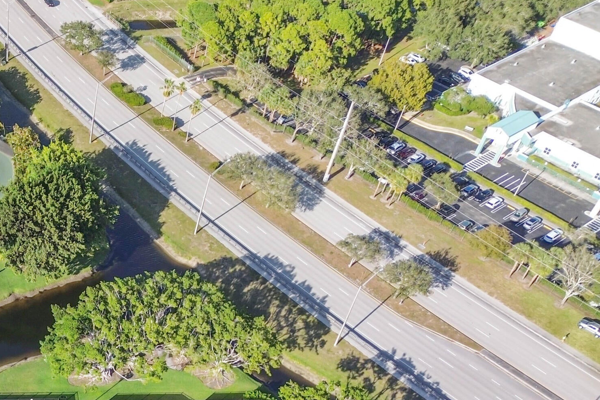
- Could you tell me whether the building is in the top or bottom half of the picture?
top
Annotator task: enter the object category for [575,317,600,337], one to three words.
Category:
vehicle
